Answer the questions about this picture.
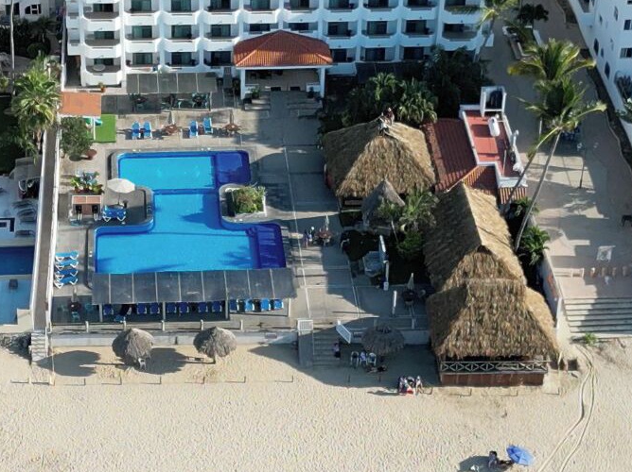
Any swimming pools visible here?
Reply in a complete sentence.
Yes, I can see a swimming pool in this picture.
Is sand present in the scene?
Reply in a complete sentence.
Yes, some sand is visible.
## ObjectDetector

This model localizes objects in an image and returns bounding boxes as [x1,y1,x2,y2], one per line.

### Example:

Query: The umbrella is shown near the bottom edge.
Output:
[504,446,528,472]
